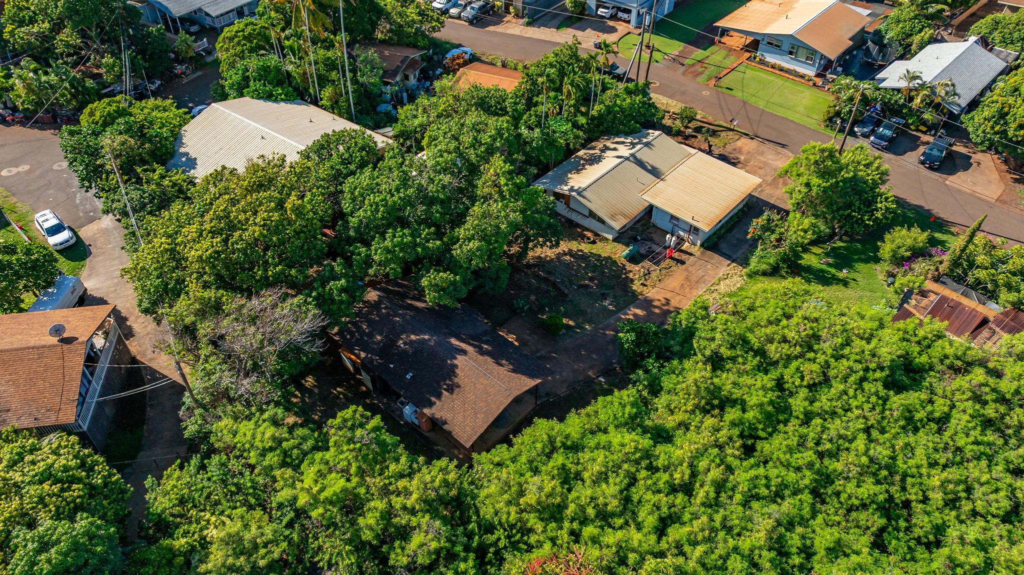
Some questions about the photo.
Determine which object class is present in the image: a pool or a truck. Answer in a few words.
truck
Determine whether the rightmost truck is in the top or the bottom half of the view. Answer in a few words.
top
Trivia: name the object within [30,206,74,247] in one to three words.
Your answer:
car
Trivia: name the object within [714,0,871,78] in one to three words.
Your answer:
house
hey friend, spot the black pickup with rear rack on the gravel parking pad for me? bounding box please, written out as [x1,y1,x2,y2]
[922,126,964,165]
